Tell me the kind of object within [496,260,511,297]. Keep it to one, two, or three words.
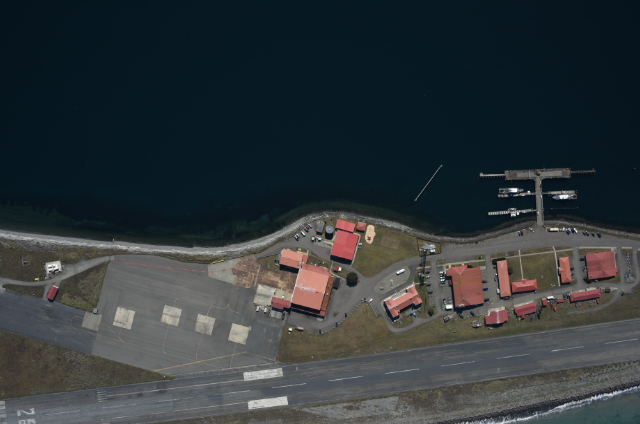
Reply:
building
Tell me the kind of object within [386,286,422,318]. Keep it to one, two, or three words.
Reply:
building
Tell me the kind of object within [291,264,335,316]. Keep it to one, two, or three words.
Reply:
hangar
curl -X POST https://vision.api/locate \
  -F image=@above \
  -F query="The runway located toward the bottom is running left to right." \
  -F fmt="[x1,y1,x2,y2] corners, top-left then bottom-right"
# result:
[0,318,640,424]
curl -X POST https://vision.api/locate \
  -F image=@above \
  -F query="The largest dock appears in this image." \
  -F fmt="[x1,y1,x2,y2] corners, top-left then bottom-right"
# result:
[506,168,571,226]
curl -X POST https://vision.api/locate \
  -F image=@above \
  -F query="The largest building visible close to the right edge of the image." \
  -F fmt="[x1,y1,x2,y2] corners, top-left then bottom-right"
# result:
[584,251,618,280]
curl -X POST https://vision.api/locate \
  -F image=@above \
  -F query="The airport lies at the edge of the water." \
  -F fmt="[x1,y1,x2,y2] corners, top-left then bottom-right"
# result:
[0,255,640,424]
